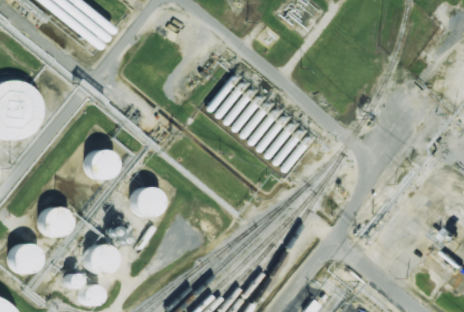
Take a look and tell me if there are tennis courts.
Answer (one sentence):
No, I can see no tennis court in this picture.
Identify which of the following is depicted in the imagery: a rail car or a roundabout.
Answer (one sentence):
The one in the frame is a rail car.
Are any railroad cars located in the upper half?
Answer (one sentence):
No, no railroad car appears in the upper half.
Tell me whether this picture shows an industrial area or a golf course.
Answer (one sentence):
What you see here is an industrial area.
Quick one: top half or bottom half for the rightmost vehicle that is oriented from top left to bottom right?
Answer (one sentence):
Seen from above, the rightmost vehicle that is oriented from top left to bottom right lies in the bottom half of the view.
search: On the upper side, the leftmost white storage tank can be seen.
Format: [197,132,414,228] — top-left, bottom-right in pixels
[0,79,46,142]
